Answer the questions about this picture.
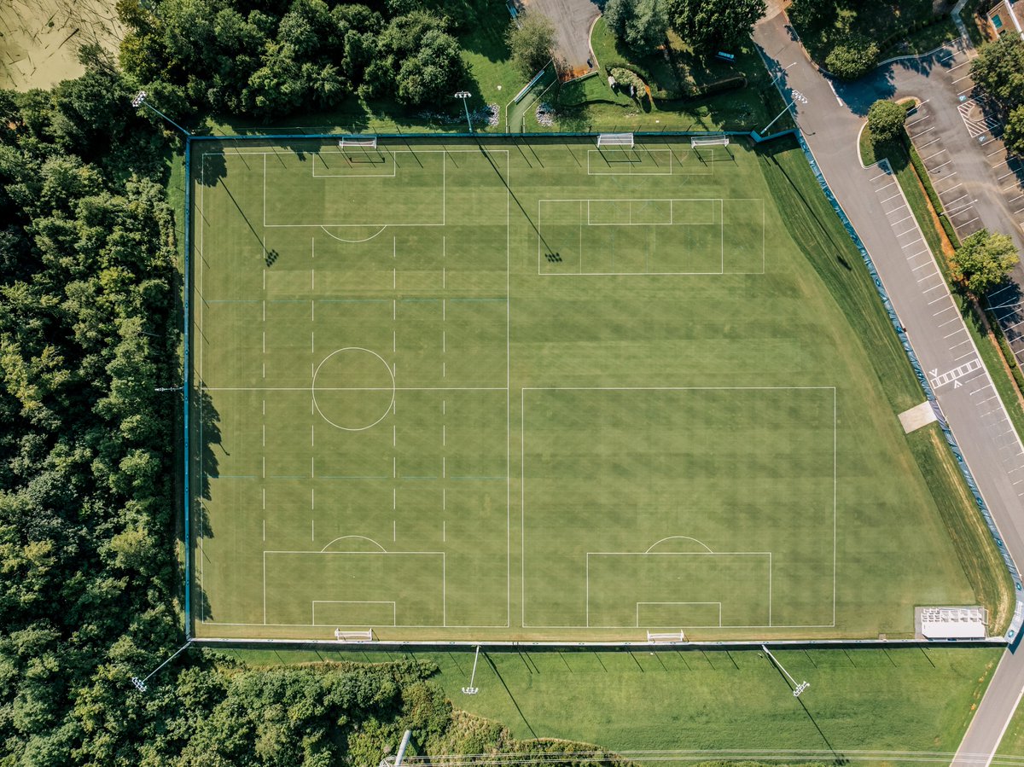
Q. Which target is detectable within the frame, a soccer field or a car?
soccer field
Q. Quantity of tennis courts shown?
0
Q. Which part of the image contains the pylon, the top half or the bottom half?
bottom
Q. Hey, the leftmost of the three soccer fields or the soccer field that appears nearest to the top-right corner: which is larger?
the leftmost of the three soccer fields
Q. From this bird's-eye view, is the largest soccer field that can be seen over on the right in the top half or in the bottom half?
bottom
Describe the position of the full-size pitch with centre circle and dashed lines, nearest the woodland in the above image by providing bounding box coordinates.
[201,149,511,629]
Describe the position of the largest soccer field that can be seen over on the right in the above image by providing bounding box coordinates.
[521,386,837,630]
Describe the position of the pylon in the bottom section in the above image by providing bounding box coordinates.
[377,729,409,767]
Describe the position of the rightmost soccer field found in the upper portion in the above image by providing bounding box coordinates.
[537,147,765,276]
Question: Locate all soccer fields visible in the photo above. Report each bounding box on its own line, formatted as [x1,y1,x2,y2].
[201,149,511,629]
[537,147,765,276]
[521,386,837,630]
